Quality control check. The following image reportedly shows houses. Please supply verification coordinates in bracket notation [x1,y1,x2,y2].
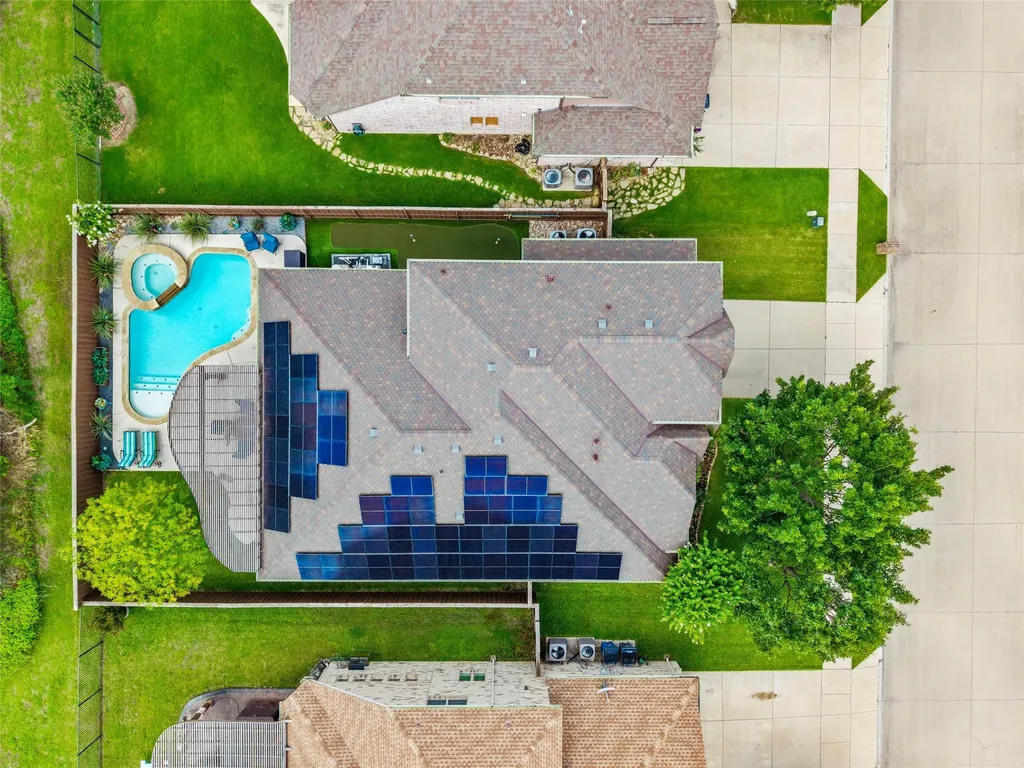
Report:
[286,0,718,170]
[277,659,704,768]
[256,238,734,583]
